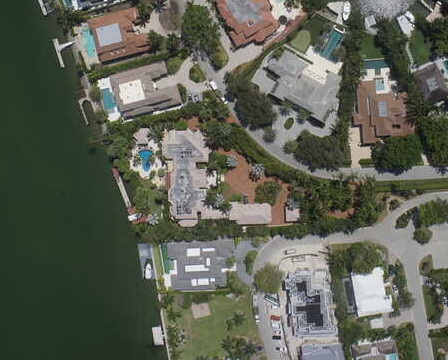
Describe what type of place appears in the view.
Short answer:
residential area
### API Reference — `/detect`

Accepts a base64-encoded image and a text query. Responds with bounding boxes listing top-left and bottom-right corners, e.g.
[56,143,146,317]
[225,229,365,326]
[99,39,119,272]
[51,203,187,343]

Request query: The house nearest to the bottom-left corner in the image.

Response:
[169,241,235,291]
